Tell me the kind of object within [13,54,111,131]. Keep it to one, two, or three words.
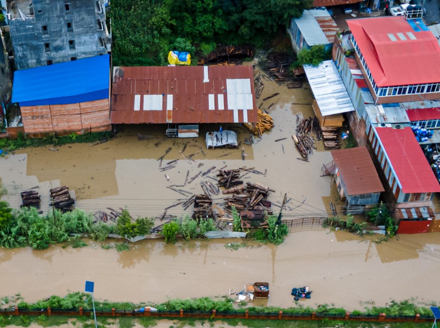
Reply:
building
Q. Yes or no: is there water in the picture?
Yes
